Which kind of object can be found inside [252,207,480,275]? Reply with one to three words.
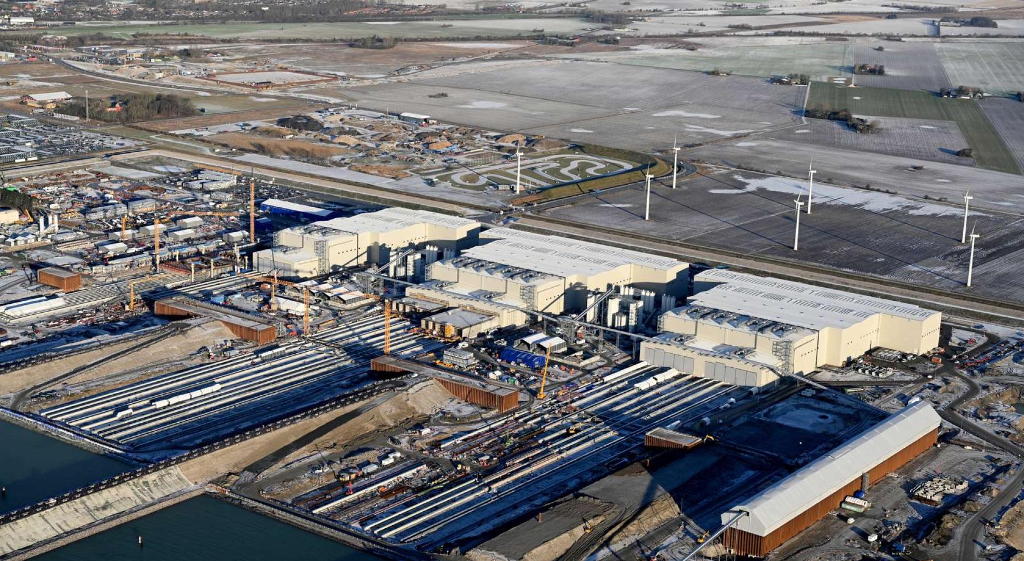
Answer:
building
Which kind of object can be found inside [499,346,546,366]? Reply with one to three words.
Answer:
building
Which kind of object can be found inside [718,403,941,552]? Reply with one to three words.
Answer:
shed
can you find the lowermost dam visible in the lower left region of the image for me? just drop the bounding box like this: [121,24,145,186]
[0,456,212,561]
